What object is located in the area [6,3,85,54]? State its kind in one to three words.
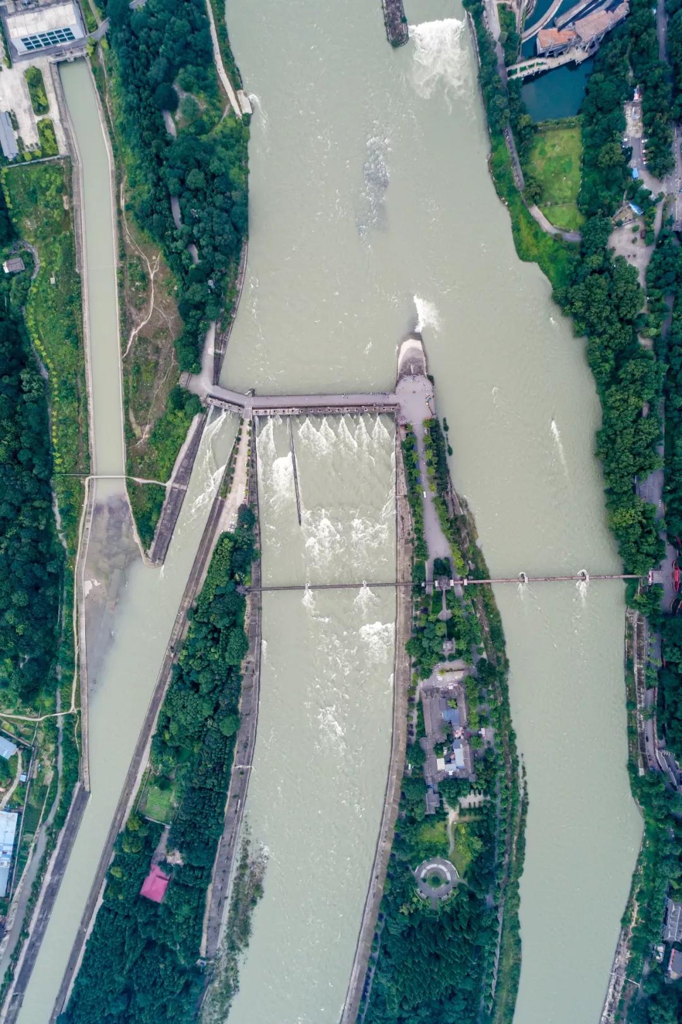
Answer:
building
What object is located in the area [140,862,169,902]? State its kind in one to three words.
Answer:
house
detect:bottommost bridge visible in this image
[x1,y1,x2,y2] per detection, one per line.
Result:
[240,569,653,593]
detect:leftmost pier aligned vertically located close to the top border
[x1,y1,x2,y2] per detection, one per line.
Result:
[382,0,408,49]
